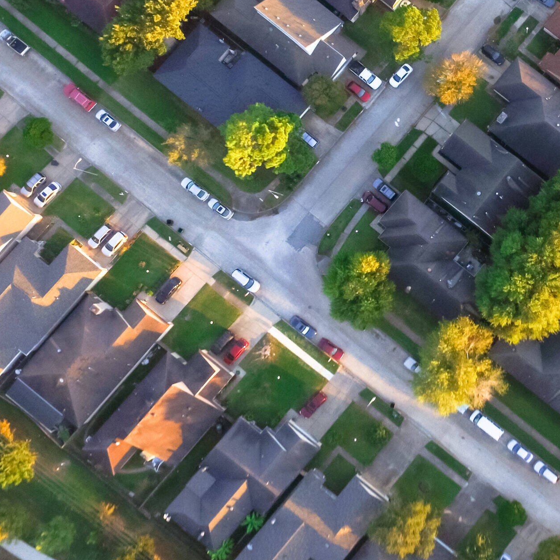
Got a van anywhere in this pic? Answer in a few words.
Yes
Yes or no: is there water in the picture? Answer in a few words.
No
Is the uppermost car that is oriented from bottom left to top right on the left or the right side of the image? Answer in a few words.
right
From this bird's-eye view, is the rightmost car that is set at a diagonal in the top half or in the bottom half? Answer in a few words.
bottom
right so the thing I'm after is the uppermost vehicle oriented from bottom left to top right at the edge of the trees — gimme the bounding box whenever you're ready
[387,63,414,90]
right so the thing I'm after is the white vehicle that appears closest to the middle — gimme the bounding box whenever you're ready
[228,268,259,292]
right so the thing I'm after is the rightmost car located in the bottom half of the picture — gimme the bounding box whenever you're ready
[532,459,560,487]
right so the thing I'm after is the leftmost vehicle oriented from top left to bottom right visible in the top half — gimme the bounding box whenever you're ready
[0,28,33,57]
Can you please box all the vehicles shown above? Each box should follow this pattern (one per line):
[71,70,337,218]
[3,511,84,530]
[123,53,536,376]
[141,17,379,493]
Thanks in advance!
[94,107,124,133]
[153,277,182,305]
[472,412,505,444]
[345,78,373,104]
[85,222,116,250]
[360,189,389,215]
[532,459,560,487]
[348,59,382,91]
[181,177,210,202]
[0,28,33,57]
[33,181,62,208]
[500,549,515,560]
[387,63,414,90]
[19,173,49,200]
[370,176,399,202]
[66,84,96,110]
[205,197,235,222]
[303,126,325,153]
[316,336,347,360]
[206,327,234,355]
[479,42,508,68]
[228,268,259,292]
[299,392,328,418]
[100,230,129,258]
[222,337,250,365]
[289,314,320,339]
[506,439,535,465]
